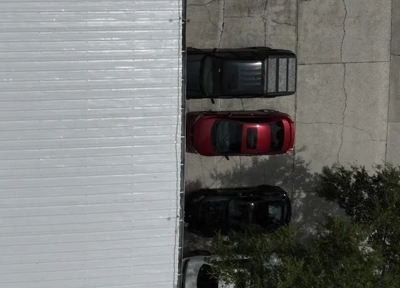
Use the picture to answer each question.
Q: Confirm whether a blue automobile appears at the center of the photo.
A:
No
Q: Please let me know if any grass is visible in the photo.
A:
No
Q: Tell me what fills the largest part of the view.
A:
buildings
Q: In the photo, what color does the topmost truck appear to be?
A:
black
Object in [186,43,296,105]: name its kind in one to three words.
truck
